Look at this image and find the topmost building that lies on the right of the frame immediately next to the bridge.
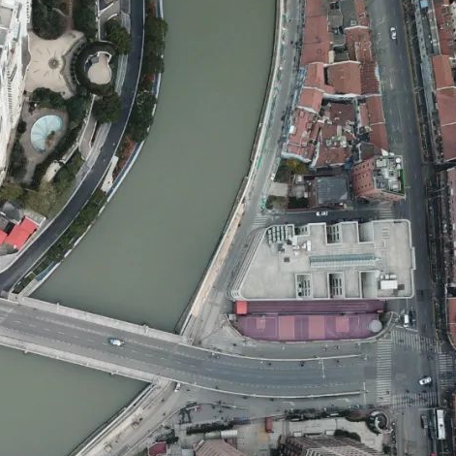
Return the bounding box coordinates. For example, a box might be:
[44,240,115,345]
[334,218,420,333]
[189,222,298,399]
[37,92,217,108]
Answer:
[225,220,416,300]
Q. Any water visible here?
Yes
